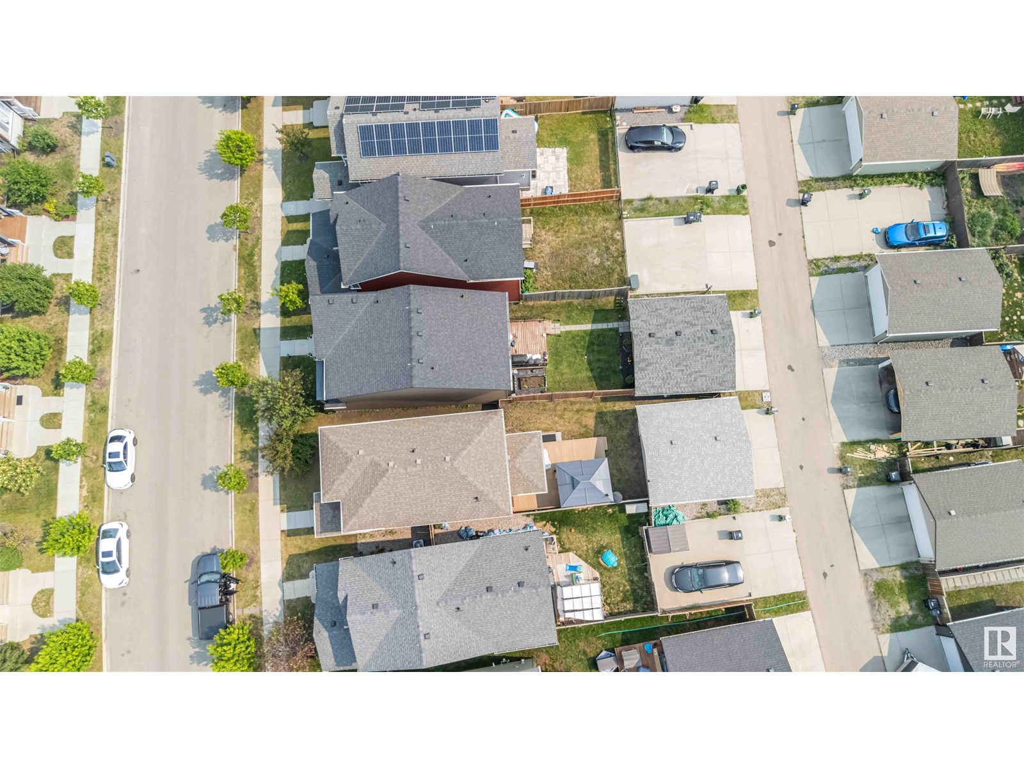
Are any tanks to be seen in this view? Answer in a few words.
No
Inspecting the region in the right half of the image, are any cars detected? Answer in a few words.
Yes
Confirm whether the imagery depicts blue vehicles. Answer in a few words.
Yes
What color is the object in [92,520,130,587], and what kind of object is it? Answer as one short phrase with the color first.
white car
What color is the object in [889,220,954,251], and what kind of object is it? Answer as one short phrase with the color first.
blue car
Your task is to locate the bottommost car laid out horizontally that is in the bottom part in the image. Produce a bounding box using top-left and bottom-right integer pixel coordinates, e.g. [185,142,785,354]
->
[673,561,750,600]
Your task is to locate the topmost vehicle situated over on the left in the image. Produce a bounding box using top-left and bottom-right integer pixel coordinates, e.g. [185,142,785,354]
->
[100,427,138,490]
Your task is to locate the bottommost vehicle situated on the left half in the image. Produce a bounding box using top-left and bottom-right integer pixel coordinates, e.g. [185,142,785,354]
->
[191,555,242,644]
